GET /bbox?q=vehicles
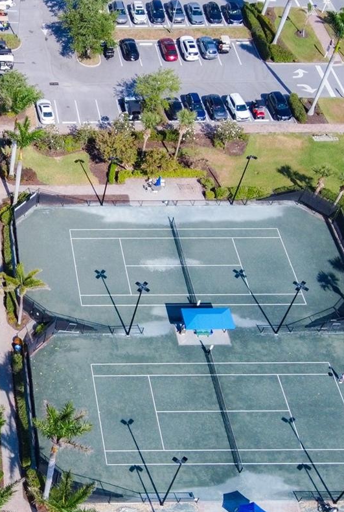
[228,90,251,118]
[168,0,187,21]
[221,0,241,22]
[186,1,204,22]
[0,48,13,63]
[121,36,140,59]
[120,87,142,118]
[199,35,219,57]
[36,97,54,121]
[202,1,221,21]
[268,89,292,117]
[207,90,231,118]
[160,37,179,59]
[0,55,14,71]
[0,38,7,48]
[163,89,184,117]
[186,89,207,117]
[149,0,167,21]
[0,14,10,31]
[217,30,233,50]
[111,0,130,22]
[130,0,148,22]
[103,39,116,58]
[0,0,14,8]
[251,97,265,116]
[181,37,200,59]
